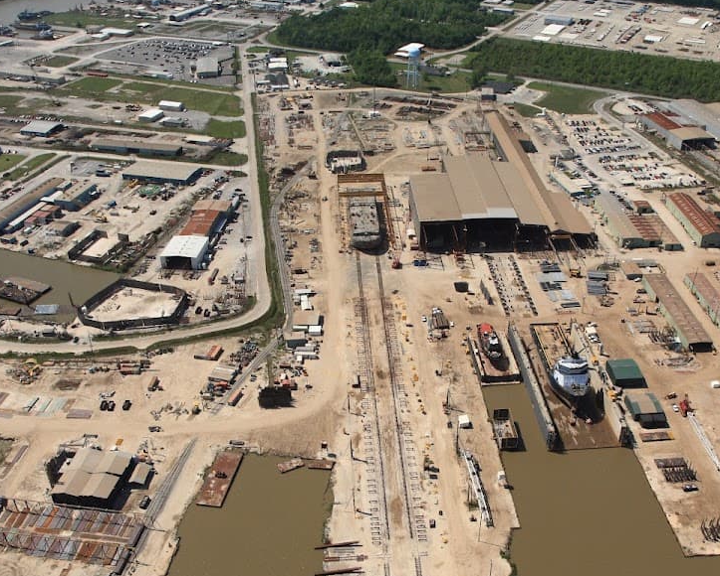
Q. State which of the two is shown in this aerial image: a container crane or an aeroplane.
container crane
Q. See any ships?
Yes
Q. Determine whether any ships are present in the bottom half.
Yes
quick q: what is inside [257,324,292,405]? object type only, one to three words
crane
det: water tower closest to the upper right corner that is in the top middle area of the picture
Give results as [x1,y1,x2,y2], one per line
[405,49,422,90]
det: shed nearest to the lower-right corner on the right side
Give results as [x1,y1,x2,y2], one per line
[624,392,665,423]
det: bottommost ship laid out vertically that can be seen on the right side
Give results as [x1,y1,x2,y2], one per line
[494,406,517,452]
